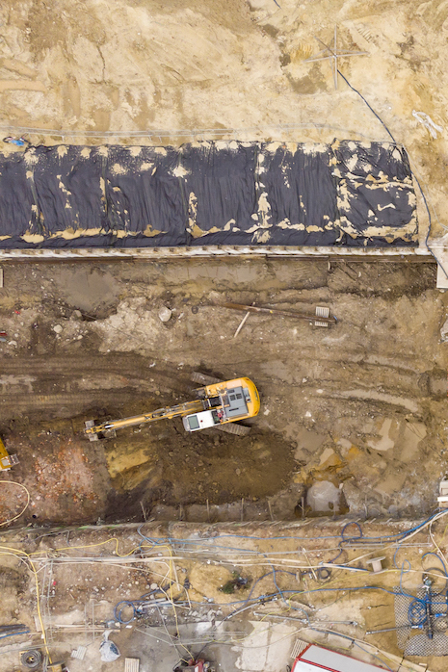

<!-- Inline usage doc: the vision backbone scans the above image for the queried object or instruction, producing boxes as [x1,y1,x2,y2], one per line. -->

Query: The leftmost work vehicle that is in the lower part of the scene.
[0,435,27,474]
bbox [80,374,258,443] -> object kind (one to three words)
work vehicle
